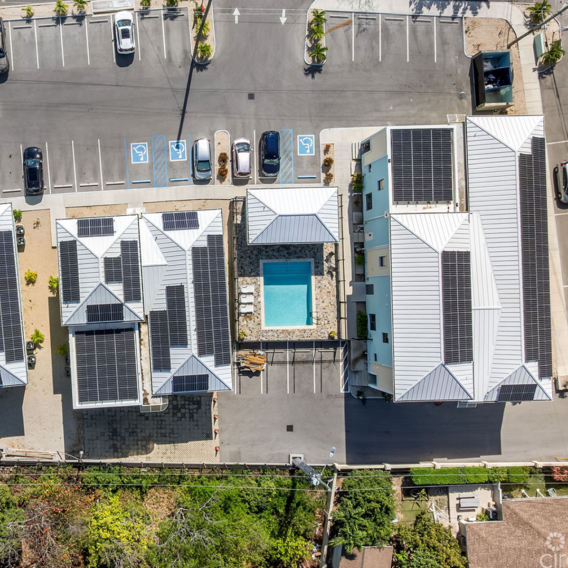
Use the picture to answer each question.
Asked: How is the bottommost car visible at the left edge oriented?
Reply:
up and down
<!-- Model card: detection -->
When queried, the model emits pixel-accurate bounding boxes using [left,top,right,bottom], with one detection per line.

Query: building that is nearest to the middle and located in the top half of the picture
[244,186,340,246]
